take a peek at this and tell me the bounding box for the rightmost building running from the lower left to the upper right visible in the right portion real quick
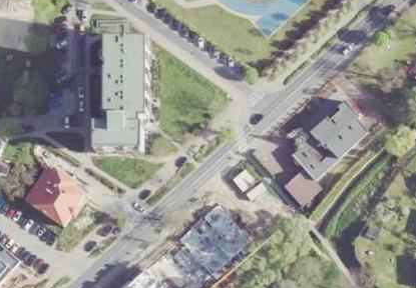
[285,102,367,207]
